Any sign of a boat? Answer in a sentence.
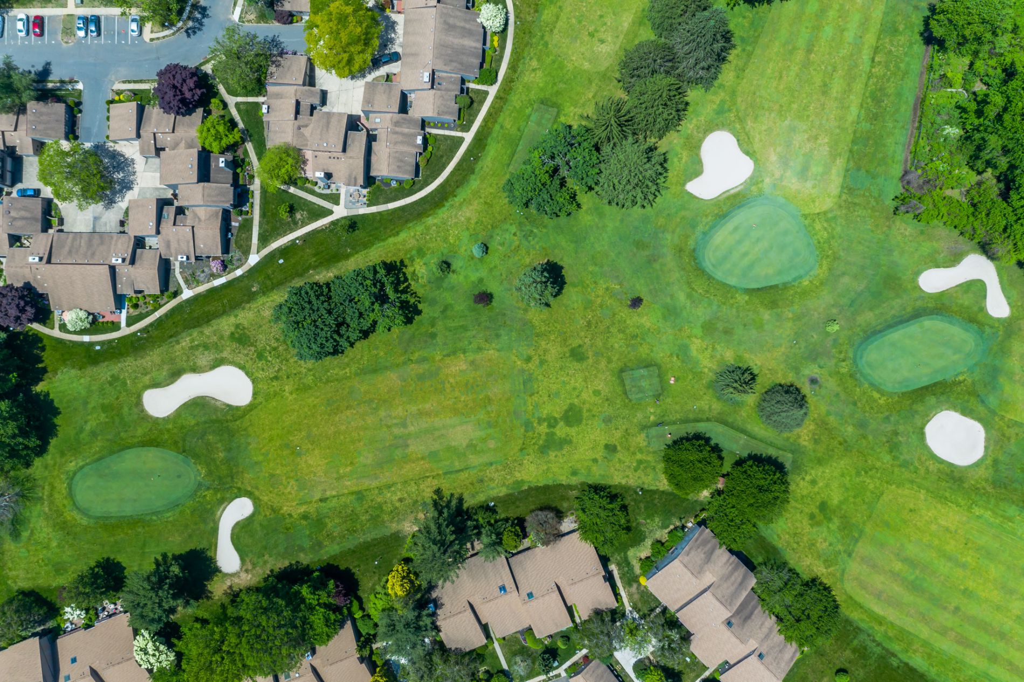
No, I find no boat anywhere in the image.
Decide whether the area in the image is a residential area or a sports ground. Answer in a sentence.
It's a residential area.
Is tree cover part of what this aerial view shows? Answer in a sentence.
Yes, some tree cover is visible.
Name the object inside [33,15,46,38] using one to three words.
vehicle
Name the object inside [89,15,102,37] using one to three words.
vehicle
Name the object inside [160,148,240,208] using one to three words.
house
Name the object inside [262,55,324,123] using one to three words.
house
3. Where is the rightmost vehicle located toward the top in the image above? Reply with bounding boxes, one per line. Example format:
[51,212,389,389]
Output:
[371,52,402,68]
